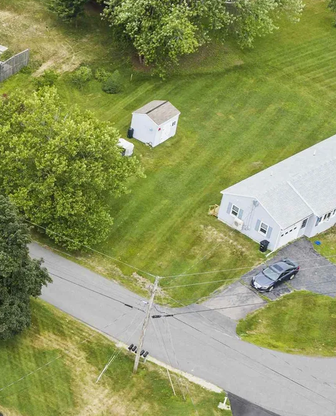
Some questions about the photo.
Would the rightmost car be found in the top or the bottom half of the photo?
bottom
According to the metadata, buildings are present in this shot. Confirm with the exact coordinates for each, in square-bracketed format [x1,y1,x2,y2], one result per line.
[123,100,176,141]
[203,136,336,257]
